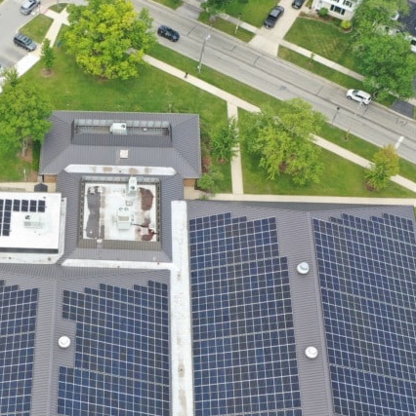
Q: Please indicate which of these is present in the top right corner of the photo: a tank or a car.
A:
car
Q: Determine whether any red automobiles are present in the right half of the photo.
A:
No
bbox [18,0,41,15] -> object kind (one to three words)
car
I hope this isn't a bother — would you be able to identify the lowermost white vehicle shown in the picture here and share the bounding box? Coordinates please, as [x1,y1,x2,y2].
[345,89,372,105]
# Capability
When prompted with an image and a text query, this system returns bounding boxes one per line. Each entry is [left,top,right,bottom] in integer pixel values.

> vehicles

[345,89,372,105]
[18,0,41,15]
[291,0,306,11]
[265,3,284,30]
[12,30,37,51]
[154,23,181,42]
